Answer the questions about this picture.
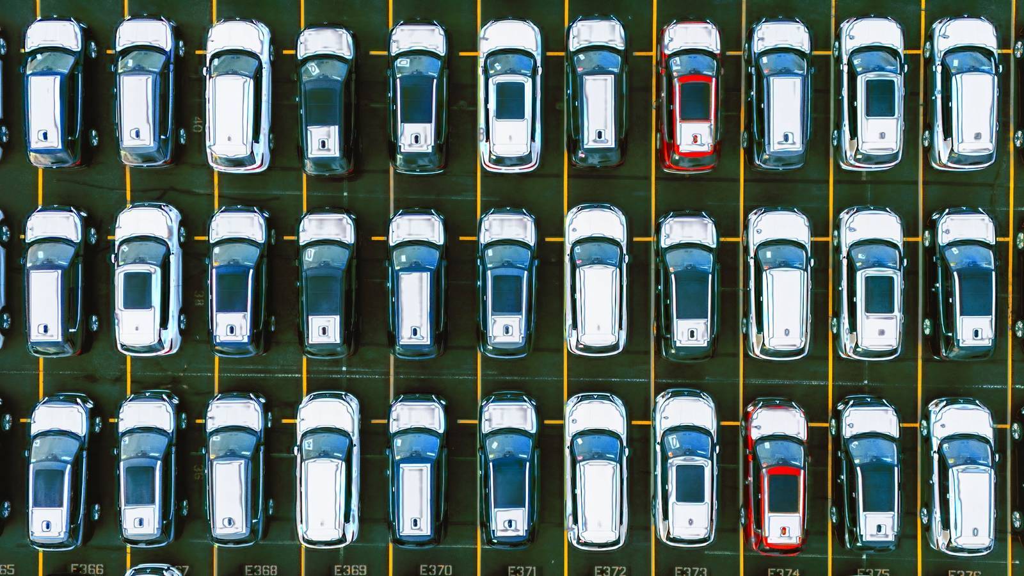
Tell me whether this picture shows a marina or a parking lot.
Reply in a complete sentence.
This image shows a parking lot.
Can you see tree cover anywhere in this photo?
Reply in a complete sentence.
No, there is no tree cover in the image.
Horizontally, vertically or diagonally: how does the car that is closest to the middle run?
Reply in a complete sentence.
Seen from above, the car that is closest to the middle lies vertically.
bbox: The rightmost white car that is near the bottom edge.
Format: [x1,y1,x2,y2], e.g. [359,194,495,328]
[922,398,998,553]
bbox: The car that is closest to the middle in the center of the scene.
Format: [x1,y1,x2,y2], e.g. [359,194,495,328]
[476,206,540,360]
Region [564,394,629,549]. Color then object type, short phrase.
white car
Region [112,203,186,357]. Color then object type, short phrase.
white car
